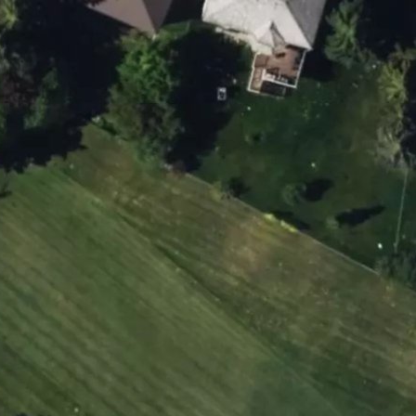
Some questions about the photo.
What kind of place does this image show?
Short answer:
golf course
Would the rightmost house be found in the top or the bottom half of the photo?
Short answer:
top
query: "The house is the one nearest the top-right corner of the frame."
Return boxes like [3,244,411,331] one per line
[202,0,324,93]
